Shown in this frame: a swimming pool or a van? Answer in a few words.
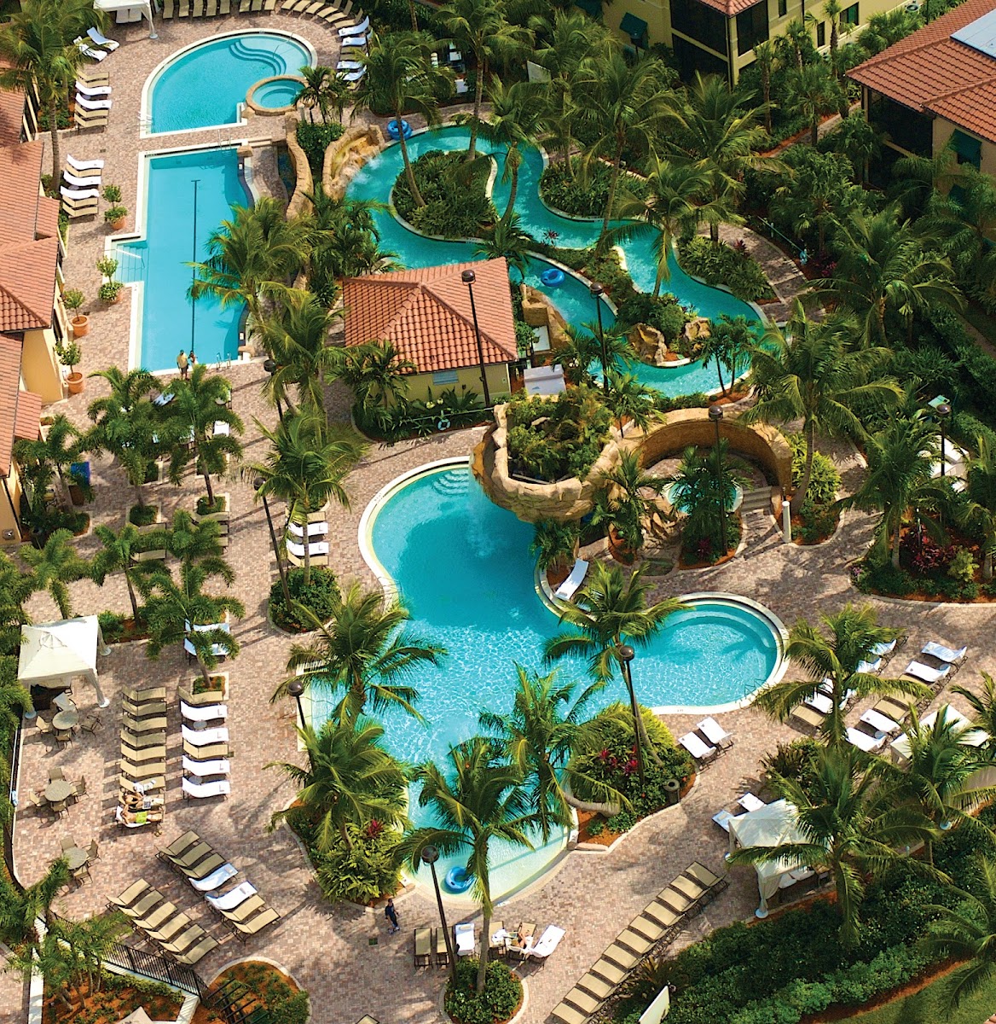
swimming pool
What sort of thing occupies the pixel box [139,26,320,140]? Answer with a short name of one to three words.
swimming pool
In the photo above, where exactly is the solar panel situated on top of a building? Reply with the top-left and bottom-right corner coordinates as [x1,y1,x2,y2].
[950,10,996,61]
